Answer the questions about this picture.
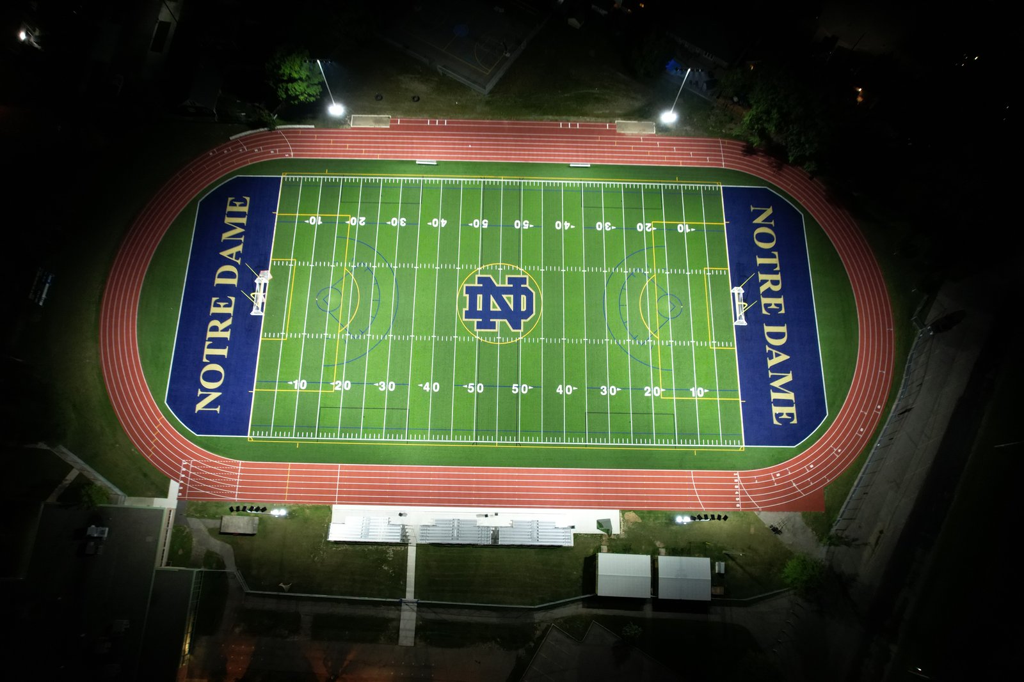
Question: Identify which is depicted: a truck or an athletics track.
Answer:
athletics track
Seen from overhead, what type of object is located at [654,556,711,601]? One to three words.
shed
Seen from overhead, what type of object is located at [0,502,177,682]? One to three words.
building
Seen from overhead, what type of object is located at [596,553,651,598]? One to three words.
shed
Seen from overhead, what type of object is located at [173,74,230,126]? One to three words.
house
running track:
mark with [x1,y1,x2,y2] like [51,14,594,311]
[94,117,898,512]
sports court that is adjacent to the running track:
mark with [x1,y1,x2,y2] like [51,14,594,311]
[377,0,551,92]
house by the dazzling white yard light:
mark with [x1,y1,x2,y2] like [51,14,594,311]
[3,1,65,57]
